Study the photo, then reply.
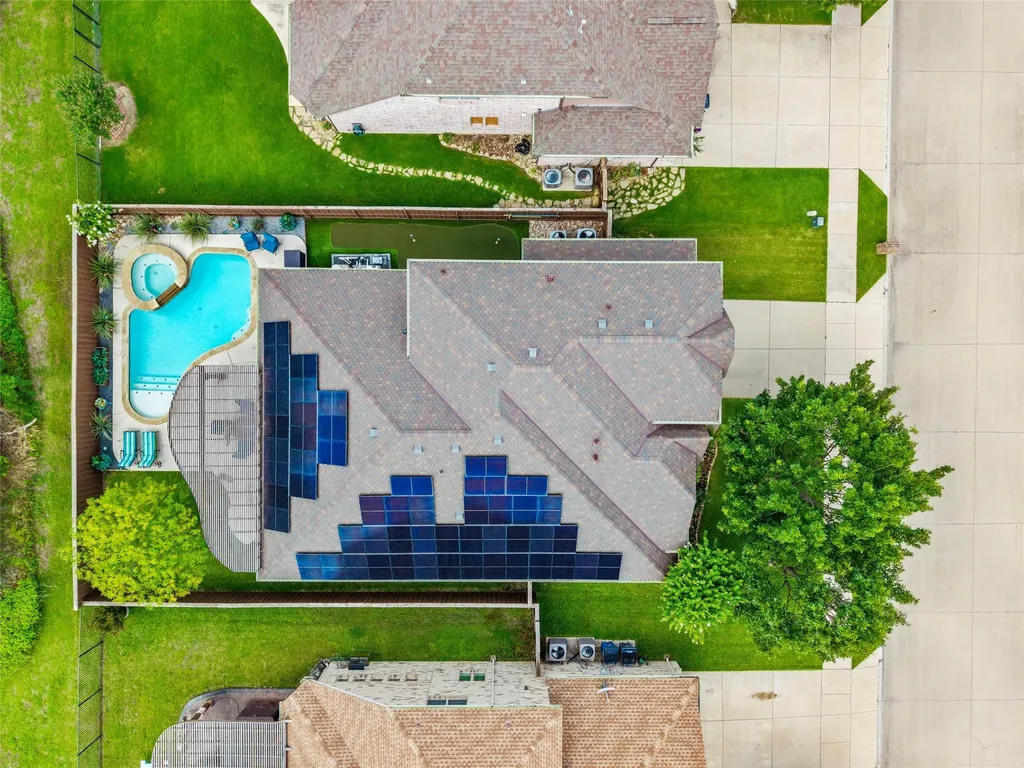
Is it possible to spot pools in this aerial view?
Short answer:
Yes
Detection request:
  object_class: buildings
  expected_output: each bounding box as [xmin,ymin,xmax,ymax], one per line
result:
[277,659,704,768]
[256,238,734,583]
[286,0,718,170]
